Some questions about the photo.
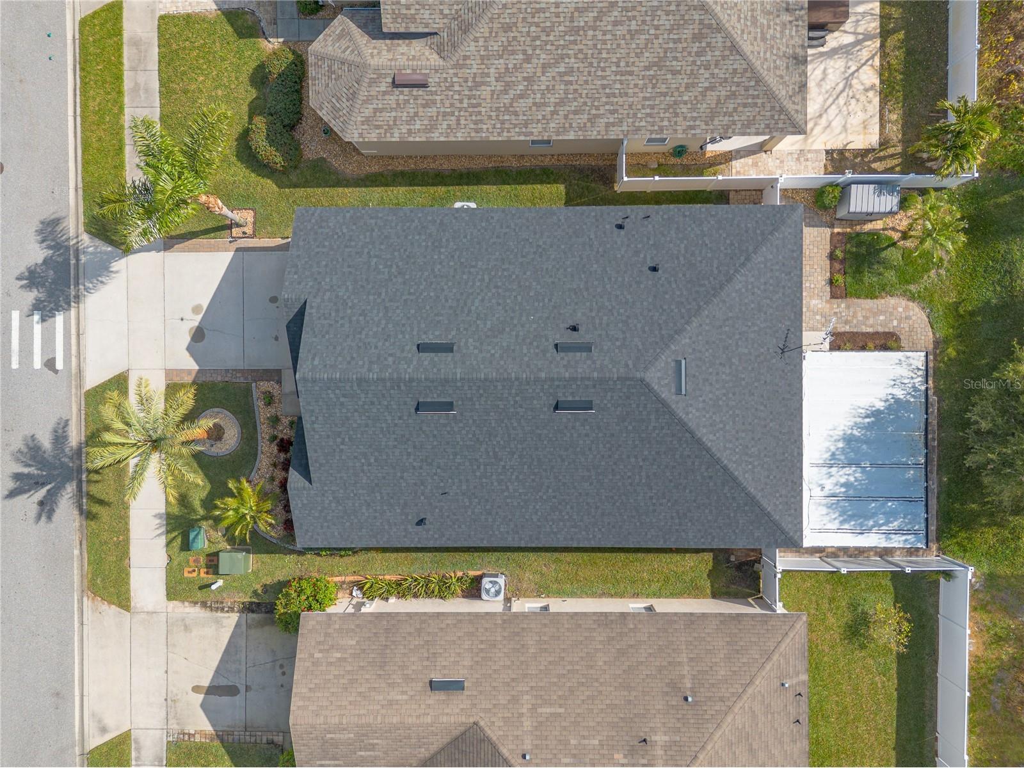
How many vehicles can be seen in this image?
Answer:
zero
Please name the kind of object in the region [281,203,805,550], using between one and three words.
house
